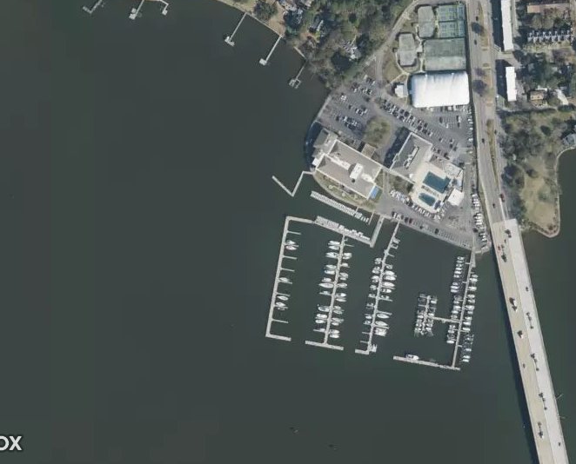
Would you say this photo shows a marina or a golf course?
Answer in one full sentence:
The picture captures a marina.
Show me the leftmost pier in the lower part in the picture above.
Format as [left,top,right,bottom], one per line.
[265,216,313,344]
